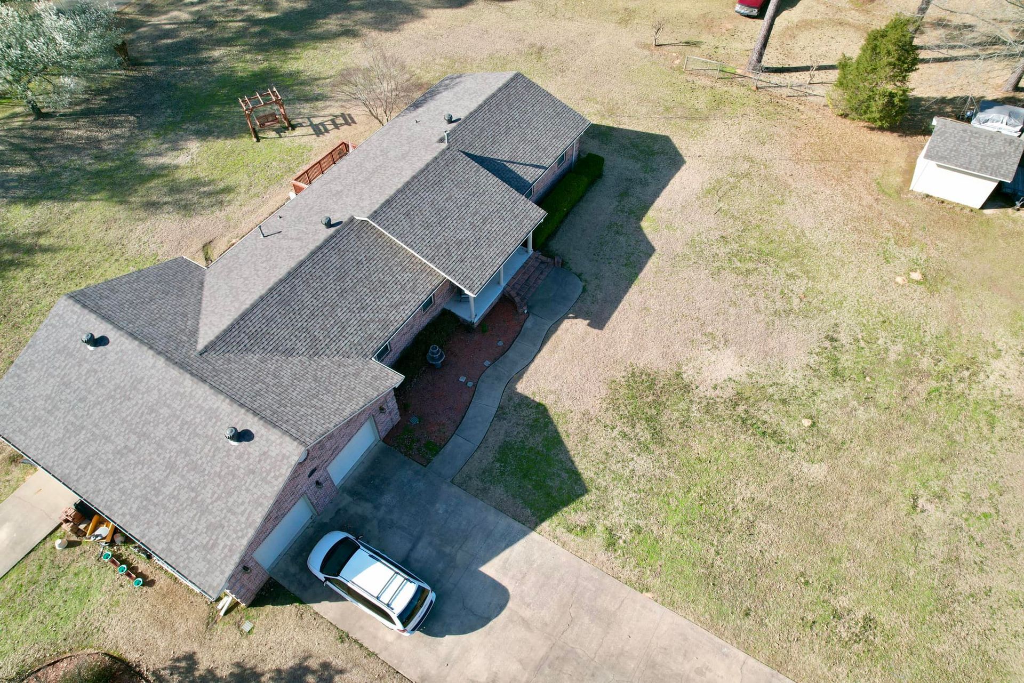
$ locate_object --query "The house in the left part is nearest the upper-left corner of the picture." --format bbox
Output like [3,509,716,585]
[0,71,591,608]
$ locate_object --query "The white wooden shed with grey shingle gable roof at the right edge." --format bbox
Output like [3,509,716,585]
[912,120,1024,209]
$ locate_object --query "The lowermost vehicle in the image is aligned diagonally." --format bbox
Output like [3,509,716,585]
[304,529,437,639]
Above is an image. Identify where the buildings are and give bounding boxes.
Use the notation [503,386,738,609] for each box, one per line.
[912,120,1024,209]
[0,71,591,608]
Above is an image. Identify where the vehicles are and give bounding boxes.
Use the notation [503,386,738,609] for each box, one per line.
[304,529,437,639]
[730,0,759,16]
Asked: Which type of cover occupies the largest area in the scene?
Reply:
grass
